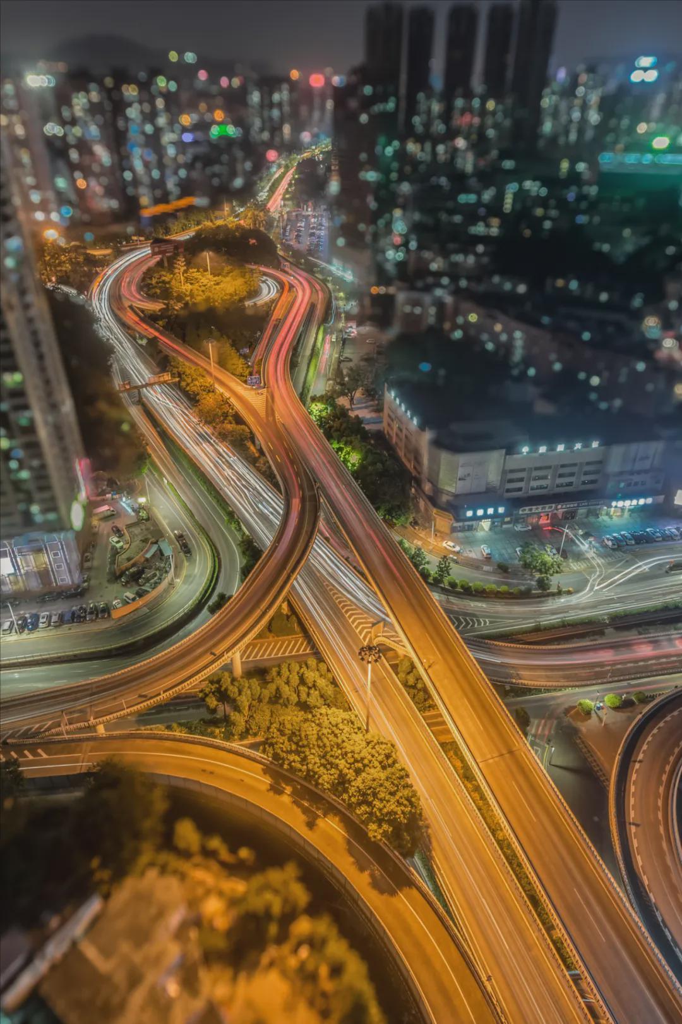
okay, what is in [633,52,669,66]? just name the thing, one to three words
building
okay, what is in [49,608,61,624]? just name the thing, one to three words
vehicle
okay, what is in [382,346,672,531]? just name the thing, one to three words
building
